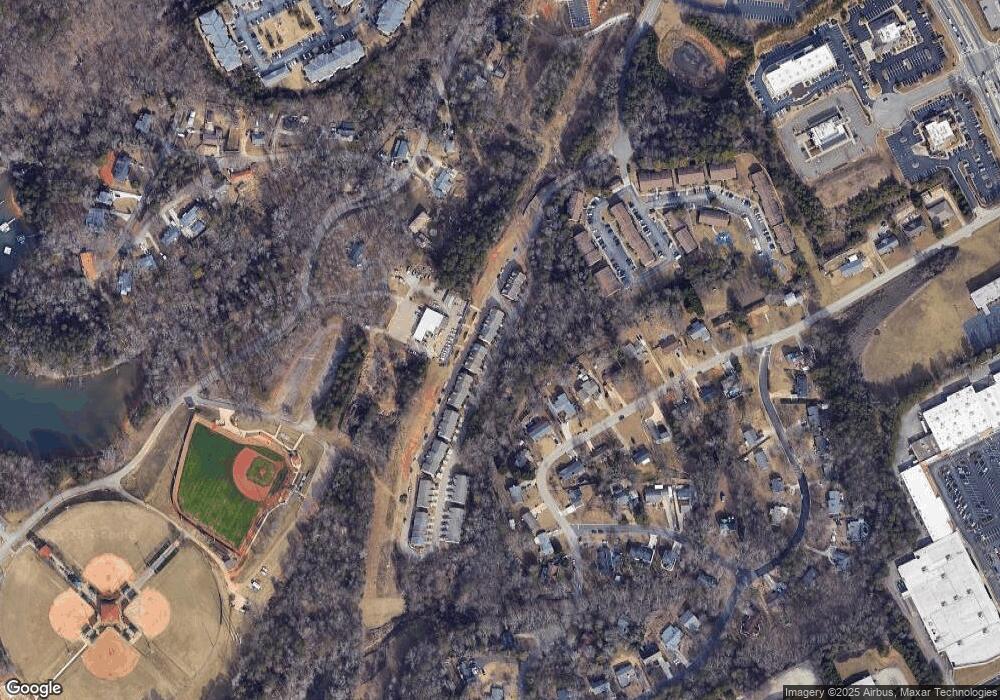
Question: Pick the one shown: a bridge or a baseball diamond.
baseball diamond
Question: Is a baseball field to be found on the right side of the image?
No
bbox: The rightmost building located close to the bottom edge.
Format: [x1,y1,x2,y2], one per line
[898,531,1000,668]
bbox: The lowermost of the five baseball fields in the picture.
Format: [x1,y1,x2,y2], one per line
[35,626,184,700]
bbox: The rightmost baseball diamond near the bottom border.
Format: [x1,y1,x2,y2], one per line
[123,537,219,685]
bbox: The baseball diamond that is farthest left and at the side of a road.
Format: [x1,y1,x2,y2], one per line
[1,537,97,685]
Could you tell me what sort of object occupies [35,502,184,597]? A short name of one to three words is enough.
baseball field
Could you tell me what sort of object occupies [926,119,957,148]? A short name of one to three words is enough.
building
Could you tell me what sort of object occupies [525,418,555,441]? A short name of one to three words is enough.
house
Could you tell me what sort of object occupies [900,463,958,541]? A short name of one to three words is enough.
building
